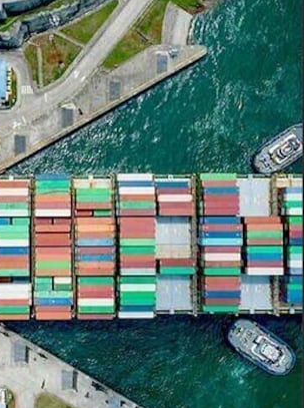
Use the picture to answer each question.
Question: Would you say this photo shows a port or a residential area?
port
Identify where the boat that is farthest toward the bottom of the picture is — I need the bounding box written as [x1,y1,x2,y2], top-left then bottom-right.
[222,319,297,372]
